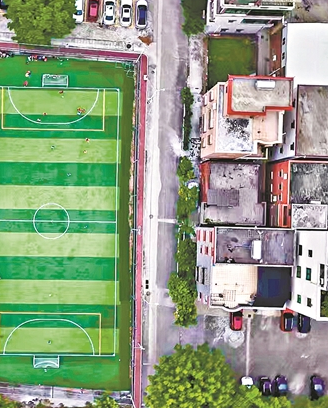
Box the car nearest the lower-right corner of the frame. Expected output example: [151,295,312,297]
[309,372,324,400]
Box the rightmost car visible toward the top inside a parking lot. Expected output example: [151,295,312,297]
[135,0,148,28]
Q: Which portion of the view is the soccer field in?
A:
left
